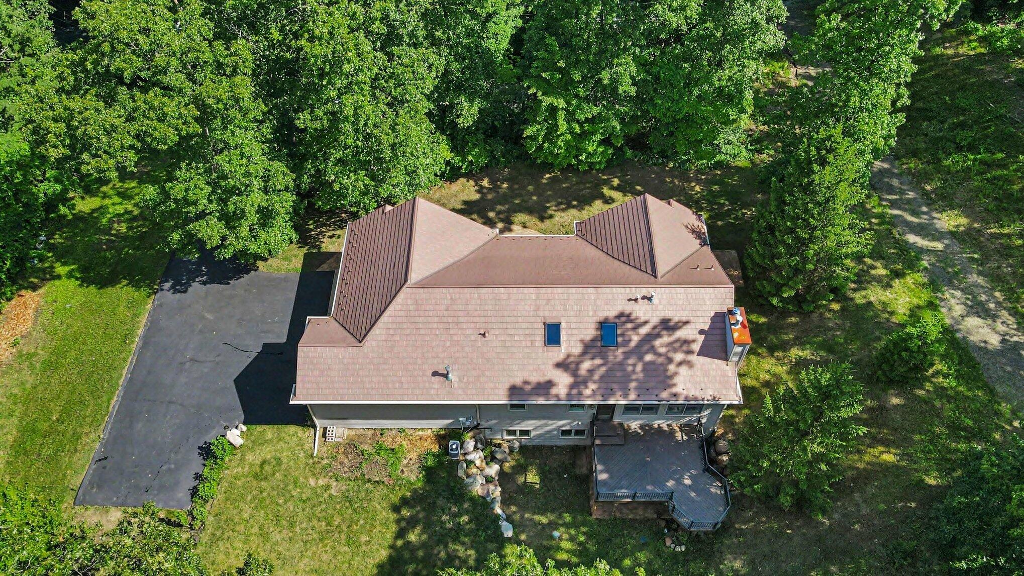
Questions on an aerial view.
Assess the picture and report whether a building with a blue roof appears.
No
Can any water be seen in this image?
No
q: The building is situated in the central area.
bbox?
[290,193,752,456]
